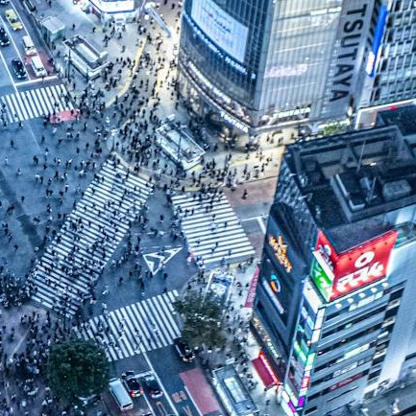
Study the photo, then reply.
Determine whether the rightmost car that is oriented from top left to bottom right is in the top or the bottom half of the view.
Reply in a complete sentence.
The bottom half of the photo is where the rightmost car that is oriented from top left to bottom right is.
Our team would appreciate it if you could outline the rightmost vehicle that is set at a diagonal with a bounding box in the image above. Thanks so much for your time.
[175,336,199,364]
